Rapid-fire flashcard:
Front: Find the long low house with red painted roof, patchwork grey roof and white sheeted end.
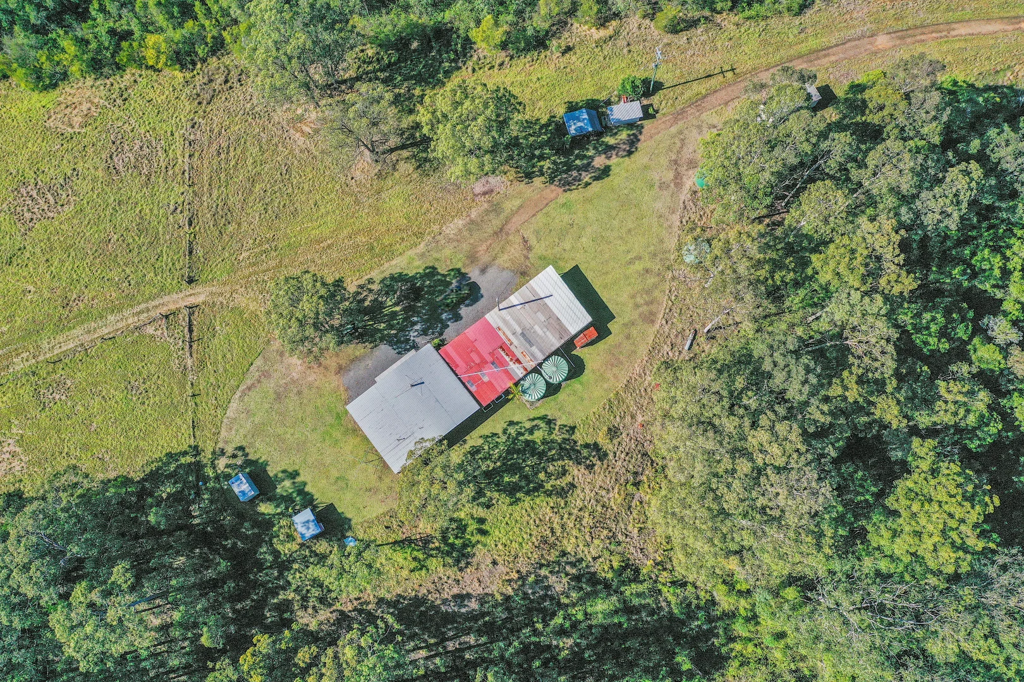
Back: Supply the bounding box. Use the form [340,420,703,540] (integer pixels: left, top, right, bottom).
[441,266,595,409]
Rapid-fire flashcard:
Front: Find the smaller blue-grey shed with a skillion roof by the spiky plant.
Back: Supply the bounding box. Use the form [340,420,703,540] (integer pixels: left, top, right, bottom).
[229,473,258,503]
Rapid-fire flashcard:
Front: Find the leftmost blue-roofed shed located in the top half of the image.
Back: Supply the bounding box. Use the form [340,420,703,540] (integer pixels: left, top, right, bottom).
[566,109,601,141]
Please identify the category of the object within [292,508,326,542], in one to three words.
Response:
shed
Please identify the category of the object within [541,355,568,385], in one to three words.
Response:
water tank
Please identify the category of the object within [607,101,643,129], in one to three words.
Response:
shed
